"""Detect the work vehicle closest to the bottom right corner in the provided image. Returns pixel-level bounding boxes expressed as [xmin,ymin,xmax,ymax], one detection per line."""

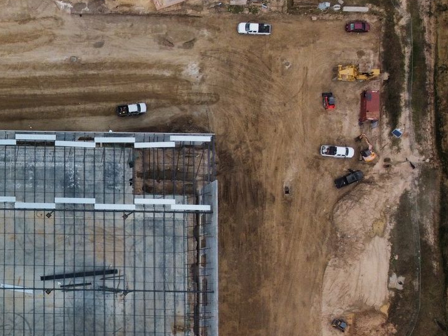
[327,316,349,332]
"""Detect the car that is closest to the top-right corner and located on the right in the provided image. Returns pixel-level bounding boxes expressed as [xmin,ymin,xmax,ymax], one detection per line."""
[345,20,370,34]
